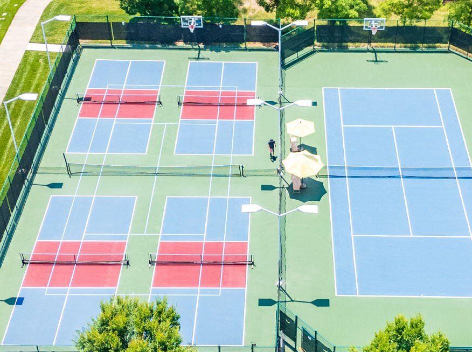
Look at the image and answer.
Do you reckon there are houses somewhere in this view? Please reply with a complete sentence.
No, the photo shows no house.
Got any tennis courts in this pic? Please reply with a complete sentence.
Yes, I can see a tennis court in this picture.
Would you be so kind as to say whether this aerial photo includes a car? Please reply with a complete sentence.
No, no car is visible in the scene.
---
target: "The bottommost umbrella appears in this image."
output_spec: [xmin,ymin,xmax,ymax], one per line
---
[284,146,328,185]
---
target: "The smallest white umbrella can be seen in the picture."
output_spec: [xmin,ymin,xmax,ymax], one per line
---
[289,121,317,142]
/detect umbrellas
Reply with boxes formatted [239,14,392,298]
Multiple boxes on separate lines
[289,121,317,142]
[284,146,328,185]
